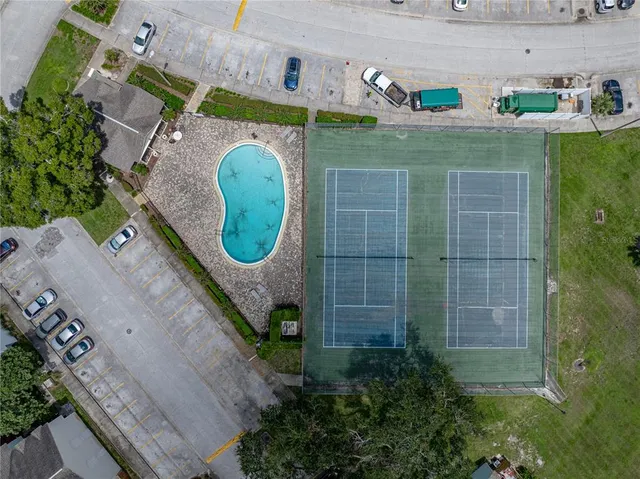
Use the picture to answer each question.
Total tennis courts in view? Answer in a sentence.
There are 2 tennis courts in the image.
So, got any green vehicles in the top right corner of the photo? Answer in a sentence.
Yes, the scene does show a green vehicle in the top right corner of the photo.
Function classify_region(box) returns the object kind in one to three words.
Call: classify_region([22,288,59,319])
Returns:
car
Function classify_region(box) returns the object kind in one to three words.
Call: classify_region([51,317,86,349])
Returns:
car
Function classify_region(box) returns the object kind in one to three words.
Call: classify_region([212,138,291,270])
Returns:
swimming pool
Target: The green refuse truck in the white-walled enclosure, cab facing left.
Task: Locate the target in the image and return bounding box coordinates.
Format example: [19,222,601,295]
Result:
[498,91,563,114]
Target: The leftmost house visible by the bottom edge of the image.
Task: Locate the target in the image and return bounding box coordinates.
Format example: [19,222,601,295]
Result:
[0,412,122,479]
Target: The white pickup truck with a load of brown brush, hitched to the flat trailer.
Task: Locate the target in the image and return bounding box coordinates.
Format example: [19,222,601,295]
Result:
[364,71,407,107]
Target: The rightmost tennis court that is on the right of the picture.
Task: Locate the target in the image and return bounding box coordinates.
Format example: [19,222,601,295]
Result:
[427,131,545,386]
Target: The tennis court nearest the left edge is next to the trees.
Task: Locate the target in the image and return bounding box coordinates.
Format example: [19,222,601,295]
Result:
[304,128,427,387]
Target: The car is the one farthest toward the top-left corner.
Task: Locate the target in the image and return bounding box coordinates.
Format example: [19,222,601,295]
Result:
[133,21,155,56]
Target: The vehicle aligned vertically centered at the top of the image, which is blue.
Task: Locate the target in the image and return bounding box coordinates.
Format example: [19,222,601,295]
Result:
[283,58,299,91]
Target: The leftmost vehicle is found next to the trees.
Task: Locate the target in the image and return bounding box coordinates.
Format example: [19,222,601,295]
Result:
[0,235,21,263]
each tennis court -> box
[304,128,427,387]
[427,131,545,386]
